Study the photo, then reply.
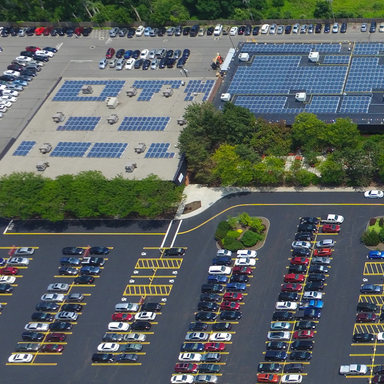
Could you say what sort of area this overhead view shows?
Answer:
parking lot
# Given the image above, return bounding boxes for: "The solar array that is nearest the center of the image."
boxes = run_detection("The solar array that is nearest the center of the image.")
[143,143,177,158]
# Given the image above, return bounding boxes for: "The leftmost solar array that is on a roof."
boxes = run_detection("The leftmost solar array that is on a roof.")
[12,141,38,156]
